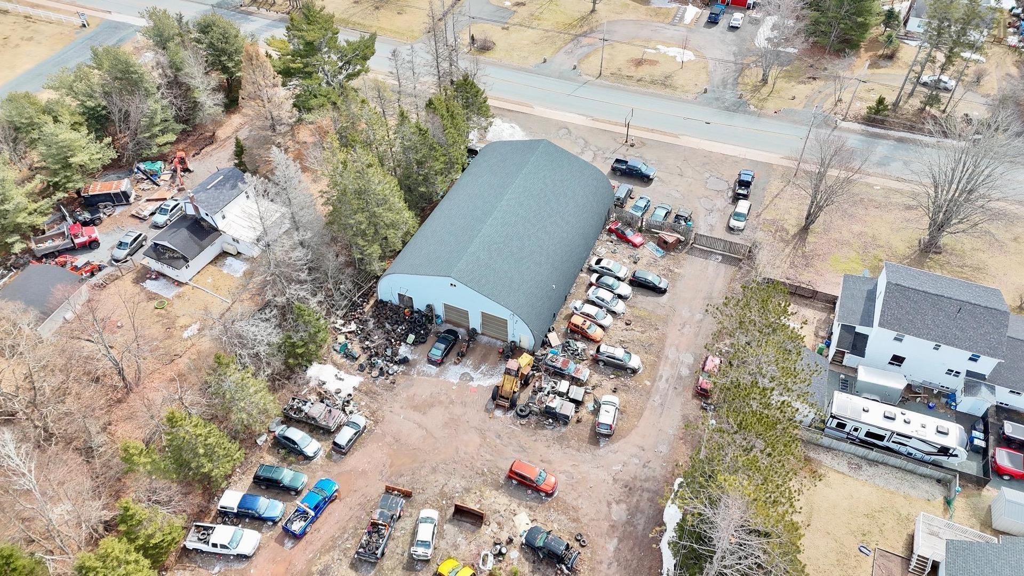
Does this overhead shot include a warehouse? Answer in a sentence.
Yes, there's a warehouse down there.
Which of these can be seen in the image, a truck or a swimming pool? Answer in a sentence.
It is a truck that can be seen here.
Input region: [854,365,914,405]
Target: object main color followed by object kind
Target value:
white trailer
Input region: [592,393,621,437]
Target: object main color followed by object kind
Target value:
white car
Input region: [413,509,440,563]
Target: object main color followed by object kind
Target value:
white car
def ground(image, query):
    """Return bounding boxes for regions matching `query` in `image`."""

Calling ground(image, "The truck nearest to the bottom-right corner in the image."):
[992,450,1024,479]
